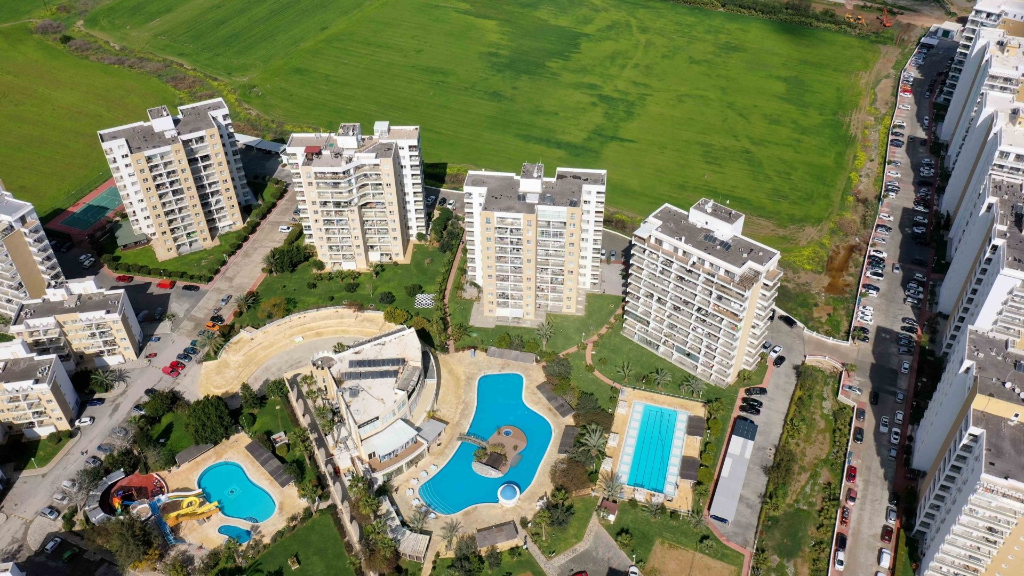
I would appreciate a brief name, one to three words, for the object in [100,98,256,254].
building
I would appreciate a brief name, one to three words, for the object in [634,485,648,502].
gazebo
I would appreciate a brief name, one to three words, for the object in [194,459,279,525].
swimming pool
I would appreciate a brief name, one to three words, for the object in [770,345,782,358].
vehicle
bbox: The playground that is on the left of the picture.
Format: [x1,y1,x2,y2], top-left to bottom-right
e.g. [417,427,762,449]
[109,473,165,515]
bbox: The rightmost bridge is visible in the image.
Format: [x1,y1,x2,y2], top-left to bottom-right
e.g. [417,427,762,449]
[804,329,849,373]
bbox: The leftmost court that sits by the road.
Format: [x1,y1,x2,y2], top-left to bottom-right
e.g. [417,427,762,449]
[52,175,128,244]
